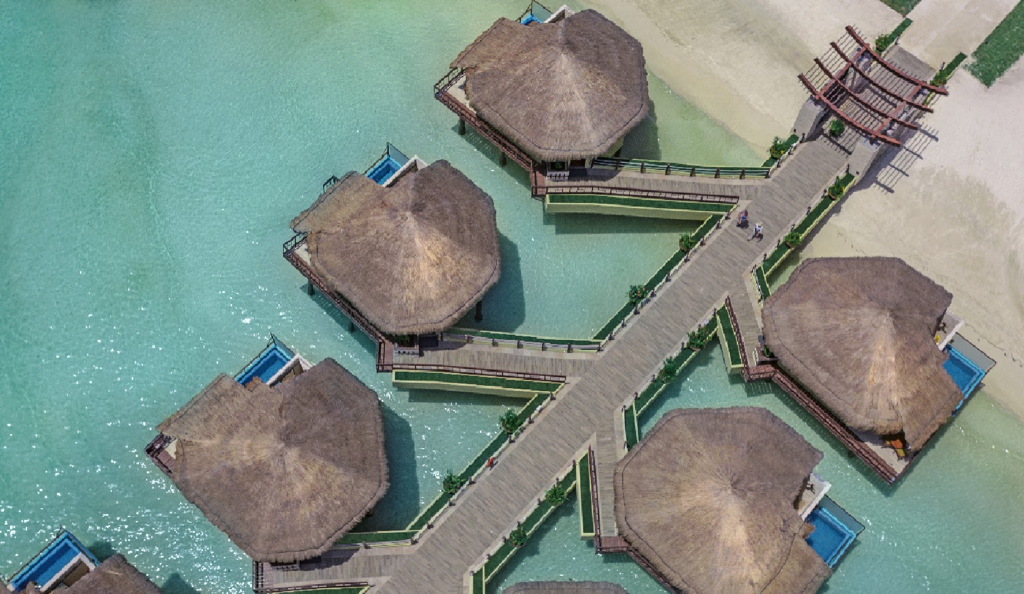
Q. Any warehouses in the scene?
No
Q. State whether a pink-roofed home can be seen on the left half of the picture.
No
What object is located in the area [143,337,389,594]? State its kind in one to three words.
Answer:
house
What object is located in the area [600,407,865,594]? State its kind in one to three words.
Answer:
house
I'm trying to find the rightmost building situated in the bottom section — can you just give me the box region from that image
[744,253,997,493]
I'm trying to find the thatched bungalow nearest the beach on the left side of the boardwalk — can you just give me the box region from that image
[433,0,646,198]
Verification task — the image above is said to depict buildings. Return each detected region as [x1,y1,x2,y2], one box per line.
[495,578,627,594]
[600,407,865,594]
[143,337,389,594]
[433,0,646,198]
[275,144,502,372]
[744,253,997,493]
[0,527,161,594]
